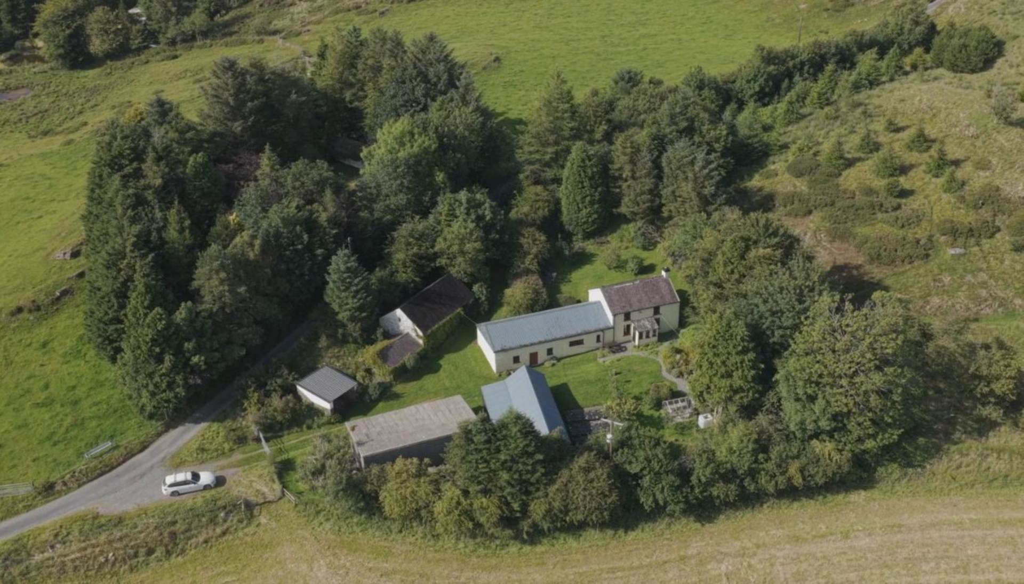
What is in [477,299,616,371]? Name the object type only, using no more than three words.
shed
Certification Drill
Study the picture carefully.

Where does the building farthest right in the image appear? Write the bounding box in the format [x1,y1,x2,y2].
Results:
[587,263,683,344]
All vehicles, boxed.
[162,467,217,494]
